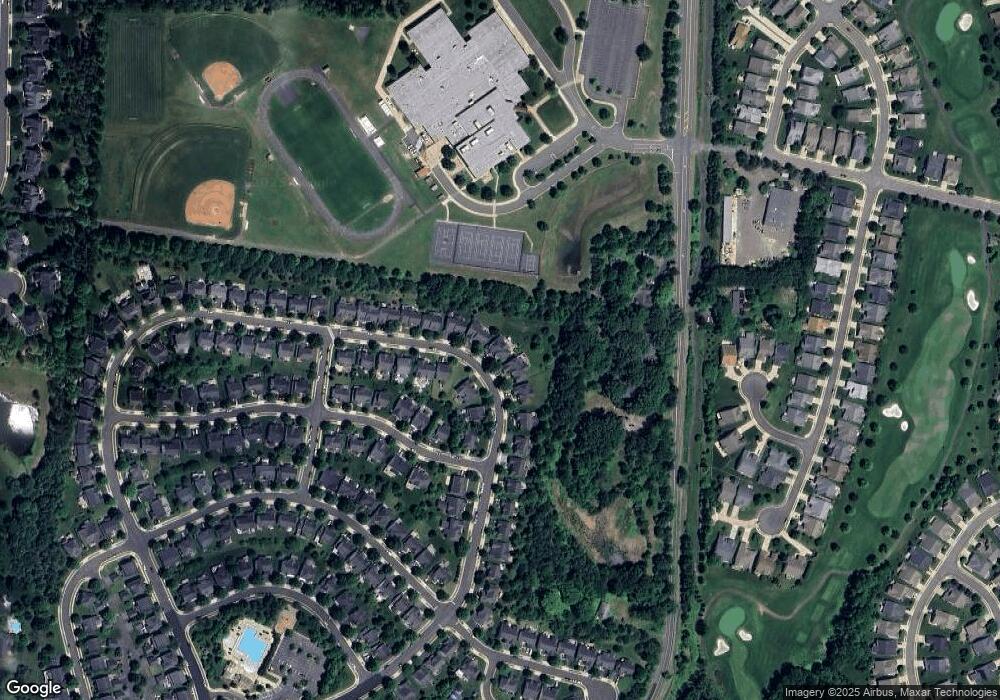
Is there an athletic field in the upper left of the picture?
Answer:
Yes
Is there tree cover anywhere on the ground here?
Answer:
Yes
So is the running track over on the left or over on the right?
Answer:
left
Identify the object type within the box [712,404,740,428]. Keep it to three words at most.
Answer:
house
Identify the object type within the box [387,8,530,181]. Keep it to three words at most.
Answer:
building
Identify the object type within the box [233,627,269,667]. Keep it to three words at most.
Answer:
swimming pool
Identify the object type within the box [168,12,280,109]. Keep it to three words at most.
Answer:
baseball field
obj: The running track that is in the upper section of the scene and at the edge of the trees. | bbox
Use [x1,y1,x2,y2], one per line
[258,66,405,240]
